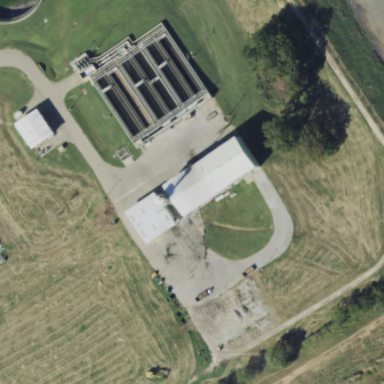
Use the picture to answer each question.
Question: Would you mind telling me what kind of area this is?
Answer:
industrial area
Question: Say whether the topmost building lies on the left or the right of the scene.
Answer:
left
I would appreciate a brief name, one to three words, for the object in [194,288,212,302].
vehicle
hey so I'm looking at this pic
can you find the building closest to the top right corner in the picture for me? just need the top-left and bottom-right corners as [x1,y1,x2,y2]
[162,136,261,218]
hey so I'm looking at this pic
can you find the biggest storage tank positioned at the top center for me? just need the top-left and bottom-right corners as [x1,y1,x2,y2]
[90,22,213,150]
